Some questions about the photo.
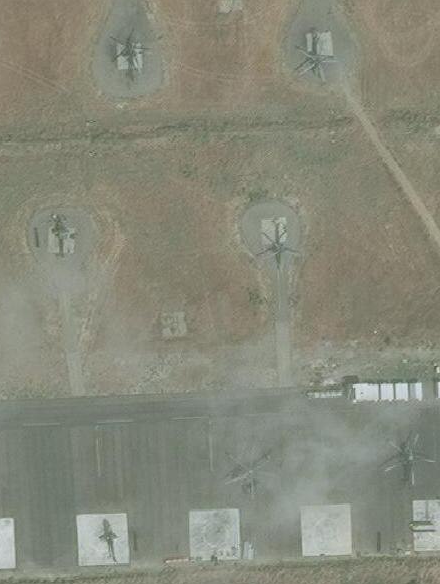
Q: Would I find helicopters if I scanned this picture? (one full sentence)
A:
Yes, the picture does show a helicopter.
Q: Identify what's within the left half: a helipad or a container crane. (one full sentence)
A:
It is a helipad that can be seen within the left half.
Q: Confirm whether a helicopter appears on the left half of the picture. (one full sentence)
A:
Yes, the scene does show a helicopter on the left half of the picture.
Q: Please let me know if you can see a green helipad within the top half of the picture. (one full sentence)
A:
No, there is no green helipad within the top half of the picture.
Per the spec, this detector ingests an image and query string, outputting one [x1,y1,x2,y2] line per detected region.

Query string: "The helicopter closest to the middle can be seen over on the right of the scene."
[252,216,303,274]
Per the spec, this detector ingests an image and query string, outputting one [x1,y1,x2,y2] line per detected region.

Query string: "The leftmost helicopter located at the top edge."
[107,24,156,85]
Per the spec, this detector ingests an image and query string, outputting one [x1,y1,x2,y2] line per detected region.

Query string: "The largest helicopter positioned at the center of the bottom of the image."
[226,436,277,498]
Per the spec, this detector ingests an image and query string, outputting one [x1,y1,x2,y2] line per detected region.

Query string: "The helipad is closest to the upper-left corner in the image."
[117,43,143,70]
